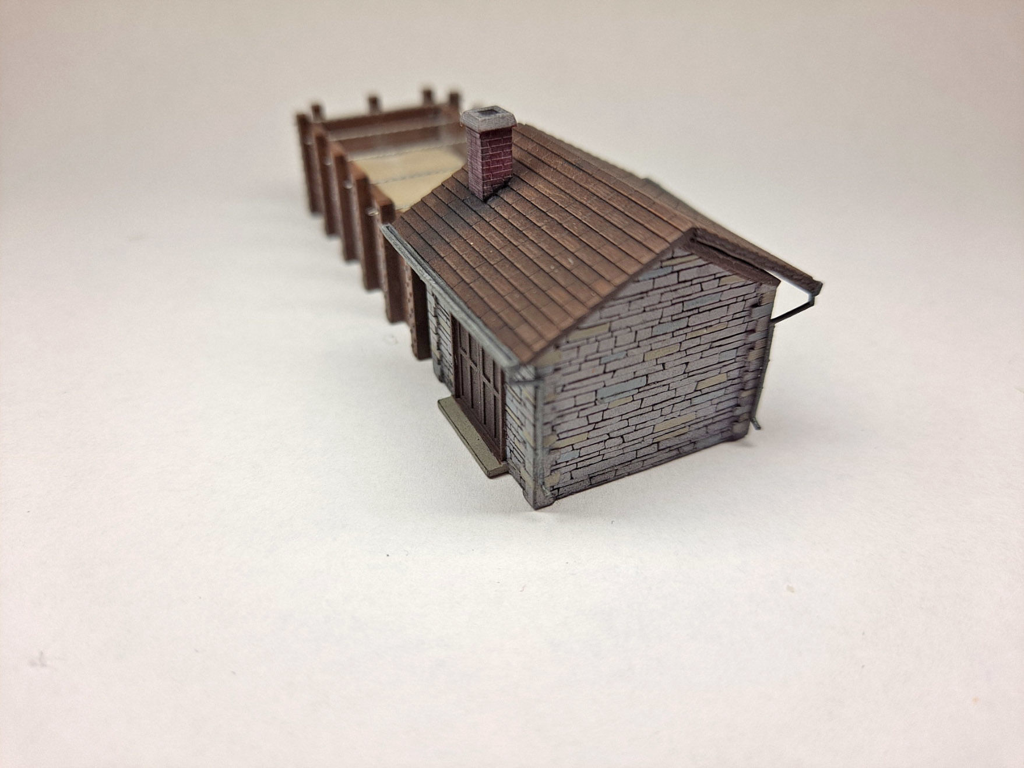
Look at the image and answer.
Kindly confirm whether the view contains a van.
No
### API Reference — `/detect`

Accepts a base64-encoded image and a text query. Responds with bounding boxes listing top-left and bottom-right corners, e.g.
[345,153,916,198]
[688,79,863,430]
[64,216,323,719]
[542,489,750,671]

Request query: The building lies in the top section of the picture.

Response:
[294,89,824,507]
